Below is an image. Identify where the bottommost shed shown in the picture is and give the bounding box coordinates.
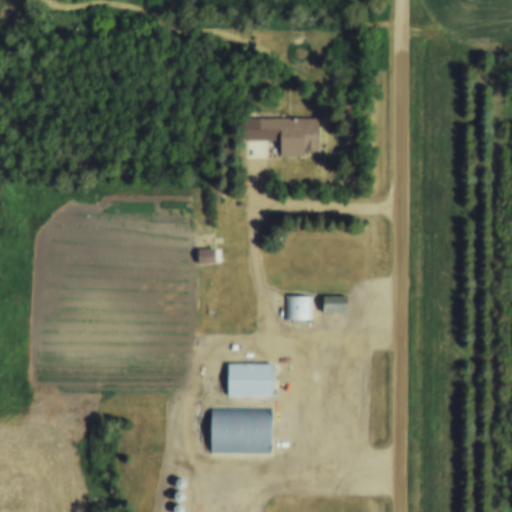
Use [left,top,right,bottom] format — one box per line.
[212,408,272,453]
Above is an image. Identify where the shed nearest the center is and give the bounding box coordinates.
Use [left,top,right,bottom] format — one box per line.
[198,248,224,264]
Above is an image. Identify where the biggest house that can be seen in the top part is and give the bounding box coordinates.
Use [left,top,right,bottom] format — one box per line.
[246,118,320,158]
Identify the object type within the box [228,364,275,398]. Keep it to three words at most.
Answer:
shed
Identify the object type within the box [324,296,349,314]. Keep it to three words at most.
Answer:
shed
